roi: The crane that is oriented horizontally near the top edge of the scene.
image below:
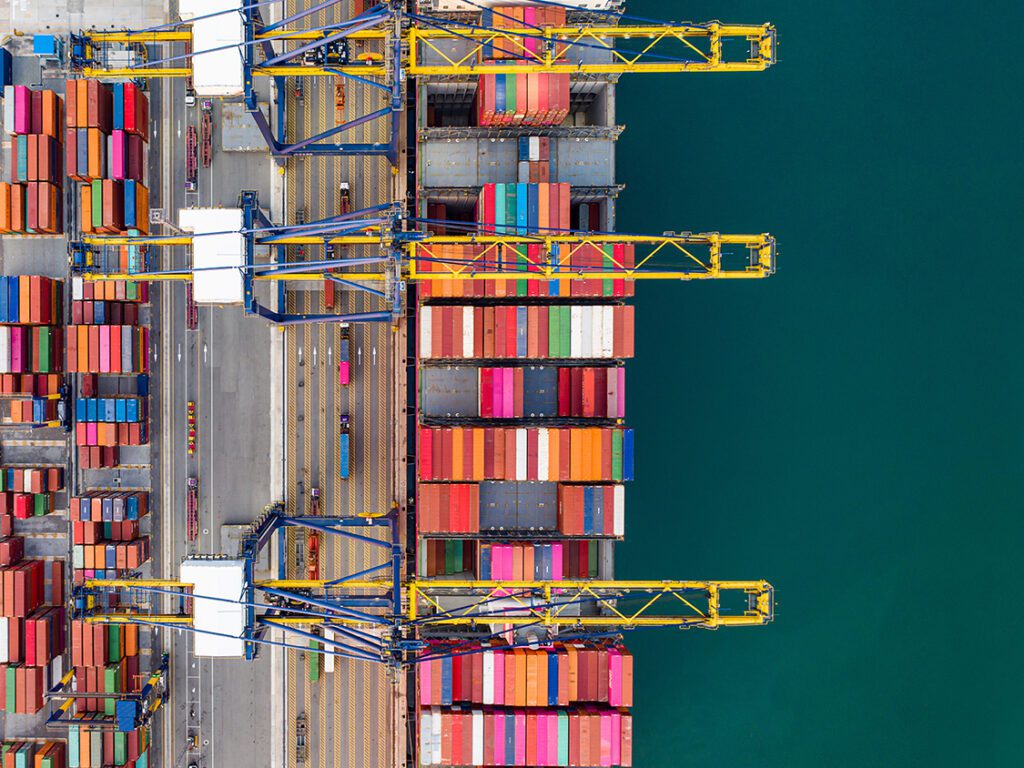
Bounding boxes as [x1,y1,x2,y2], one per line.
[65,0,781,176]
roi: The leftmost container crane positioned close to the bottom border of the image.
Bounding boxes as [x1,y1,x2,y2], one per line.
[41,660,165,732]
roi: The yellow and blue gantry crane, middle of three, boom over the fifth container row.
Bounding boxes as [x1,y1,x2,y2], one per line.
[65,192,781,339]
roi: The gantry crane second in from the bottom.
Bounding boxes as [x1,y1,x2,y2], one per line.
[65,501,781,671]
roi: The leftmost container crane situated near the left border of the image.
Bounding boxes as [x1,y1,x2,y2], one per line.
[0,385,69,429]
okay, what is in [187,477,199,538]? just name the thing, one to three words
vehicle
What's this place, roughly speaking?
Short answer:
port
